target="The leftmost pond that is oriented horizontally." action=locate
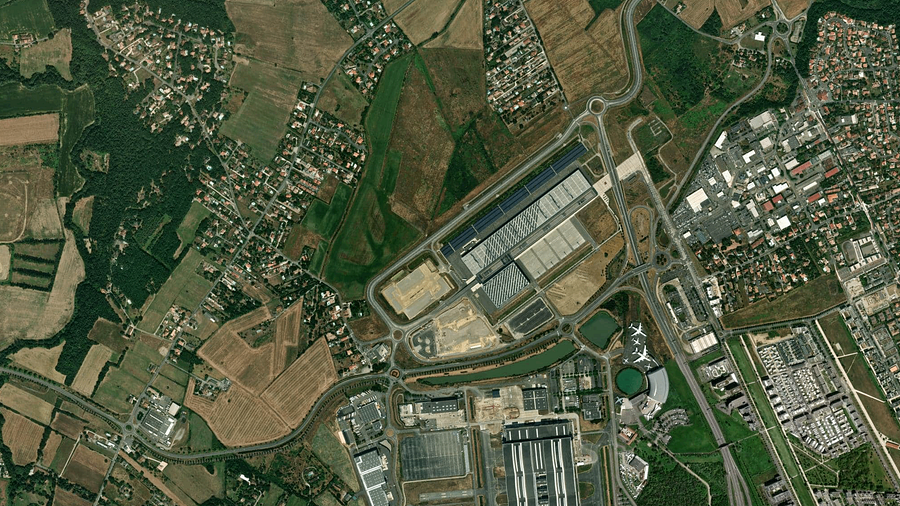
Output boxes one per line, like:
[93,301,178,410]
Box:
[416,341,575,385]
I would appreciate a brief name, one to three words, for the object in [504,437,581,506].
hangar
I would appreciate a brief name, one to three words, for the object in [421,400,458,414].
hangar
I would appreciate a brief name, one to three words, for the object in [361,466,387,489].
building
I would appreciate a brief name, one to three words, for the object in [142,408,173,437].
building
